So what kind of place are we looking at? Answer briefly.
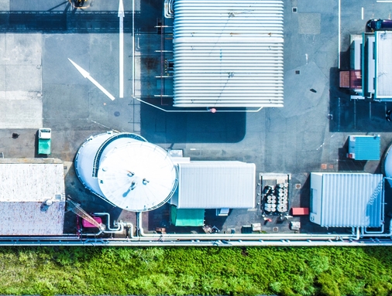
industrial area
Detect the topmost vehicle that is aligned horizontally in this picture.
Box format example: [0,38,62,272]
[364,17,392,31]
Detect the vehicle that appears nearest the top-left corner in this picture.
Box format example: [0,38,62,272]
[35,128,50,155]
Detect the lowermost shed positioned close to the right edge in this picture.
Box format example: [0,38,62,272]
[307,171,383,227]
